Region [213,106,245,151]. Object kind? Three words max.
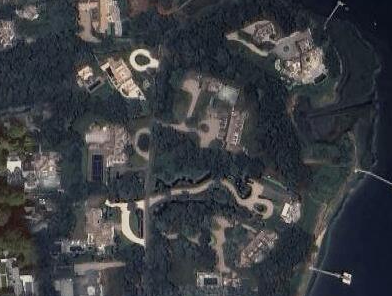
house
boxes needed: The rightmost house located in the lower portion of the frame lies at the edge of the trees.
[281,198,303,226]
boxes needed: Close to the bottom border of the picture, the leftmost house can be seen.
[3,258,24,296]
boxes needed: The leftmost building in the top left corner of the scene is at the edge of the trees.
[0,19,16,47]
